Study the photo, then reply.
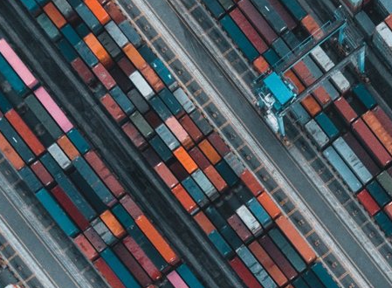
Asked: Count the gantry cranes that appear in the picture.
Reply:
one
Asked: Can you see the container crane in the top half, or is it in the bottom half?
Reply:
top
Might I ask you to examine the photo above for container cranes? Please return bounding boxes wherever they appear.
[240,17,371,146]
